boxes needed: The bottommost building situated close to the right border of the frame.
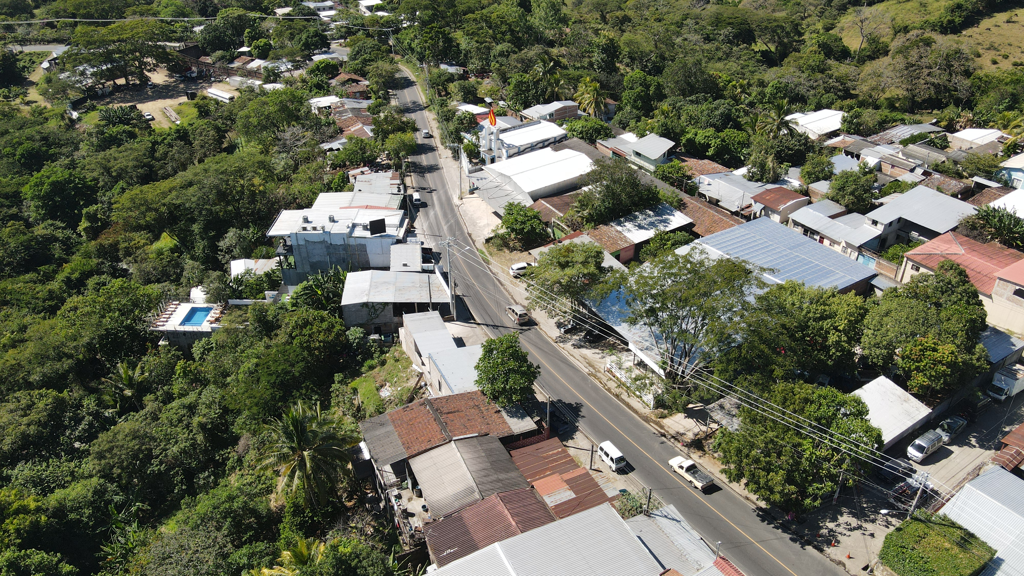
[937,466,1024,576]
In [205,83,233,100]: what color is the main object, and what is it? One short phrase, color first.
white vehicle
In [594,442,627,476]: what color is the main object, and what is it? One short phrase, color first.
white vehicle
